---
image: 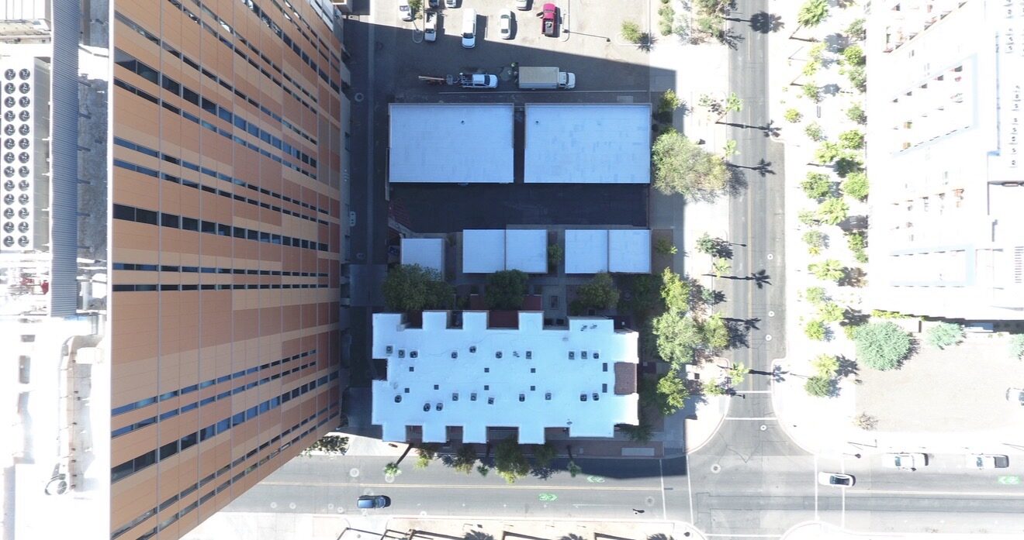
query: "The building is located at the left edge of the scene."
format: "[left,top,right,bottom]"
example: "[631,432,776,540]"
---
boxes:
[0,0,341,540]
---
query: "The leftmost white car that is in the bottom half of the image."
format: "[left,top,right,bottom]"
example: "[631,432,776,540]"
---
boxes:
[817,470,856,488]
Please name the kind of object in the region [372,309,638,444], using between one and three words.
building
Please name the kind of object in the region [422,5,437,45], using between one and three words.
vehicle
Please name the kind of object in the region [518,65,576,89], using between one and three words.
truck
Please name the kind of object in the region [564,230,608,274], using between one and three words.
house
